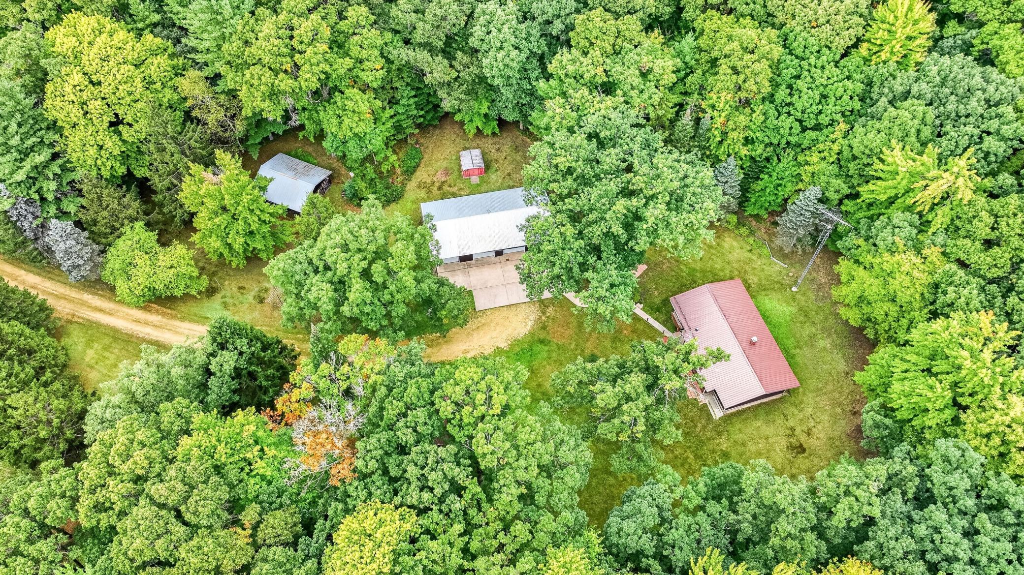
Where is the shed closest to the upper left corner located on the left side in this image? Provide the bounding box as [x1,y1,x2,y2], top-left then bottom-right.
[254,152,336,217]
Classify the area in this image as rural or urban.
rural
